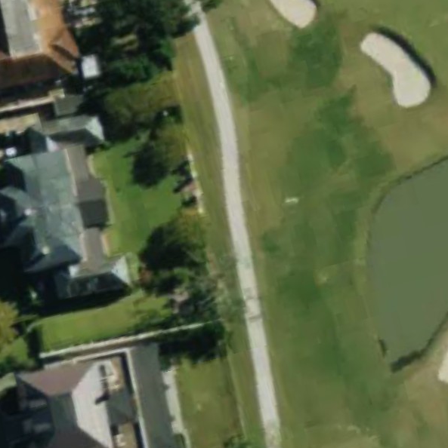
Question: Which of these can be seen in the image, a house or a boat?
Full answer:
The one in the frame is a house.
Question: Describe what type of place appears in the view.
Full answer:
This looks like a golf course.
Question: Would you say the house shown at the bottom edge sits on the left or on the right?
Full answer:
You can find the house shown at the bottom edge on the left side of the picture.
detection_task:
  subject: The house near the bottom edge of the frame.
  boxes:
[15,342,176,448]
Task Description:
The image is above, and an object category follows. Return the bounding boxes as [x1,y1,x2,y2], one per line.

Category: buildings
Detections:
[0,0,79,92]
[54,93,84,116]
[0,116,132,299]
[15,342,176,448]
